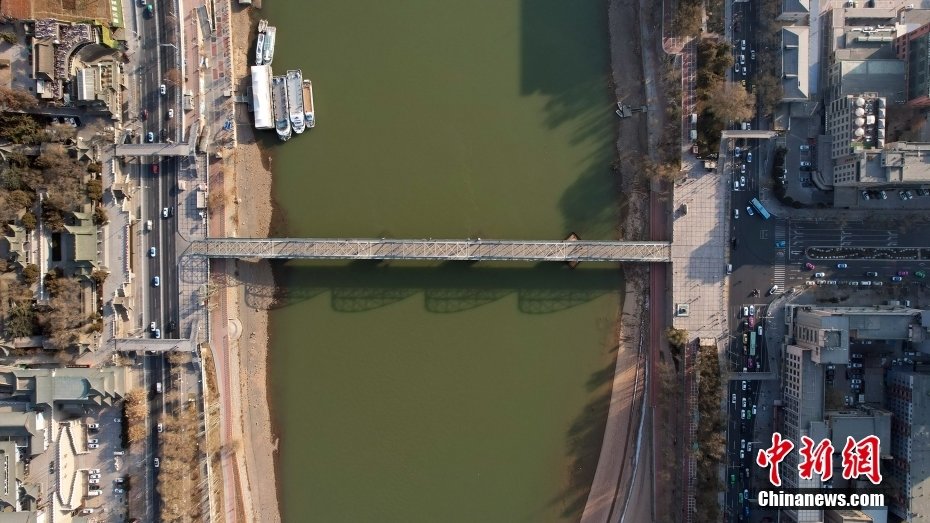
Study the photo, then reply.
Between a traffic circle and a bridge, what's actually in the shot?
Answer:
bridge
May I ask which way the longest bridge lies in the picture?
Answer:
from side to side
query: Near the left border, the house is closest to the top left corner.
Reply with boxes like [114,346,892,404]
[34,38,57,80]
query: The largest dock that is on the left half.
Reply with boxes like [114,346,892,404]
[252,65,277,130]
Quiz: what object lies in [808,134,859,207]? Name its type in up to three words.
building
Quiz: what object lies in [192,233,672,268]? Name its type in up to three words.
bridge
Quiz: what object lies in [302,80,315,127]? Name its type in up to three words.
boat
